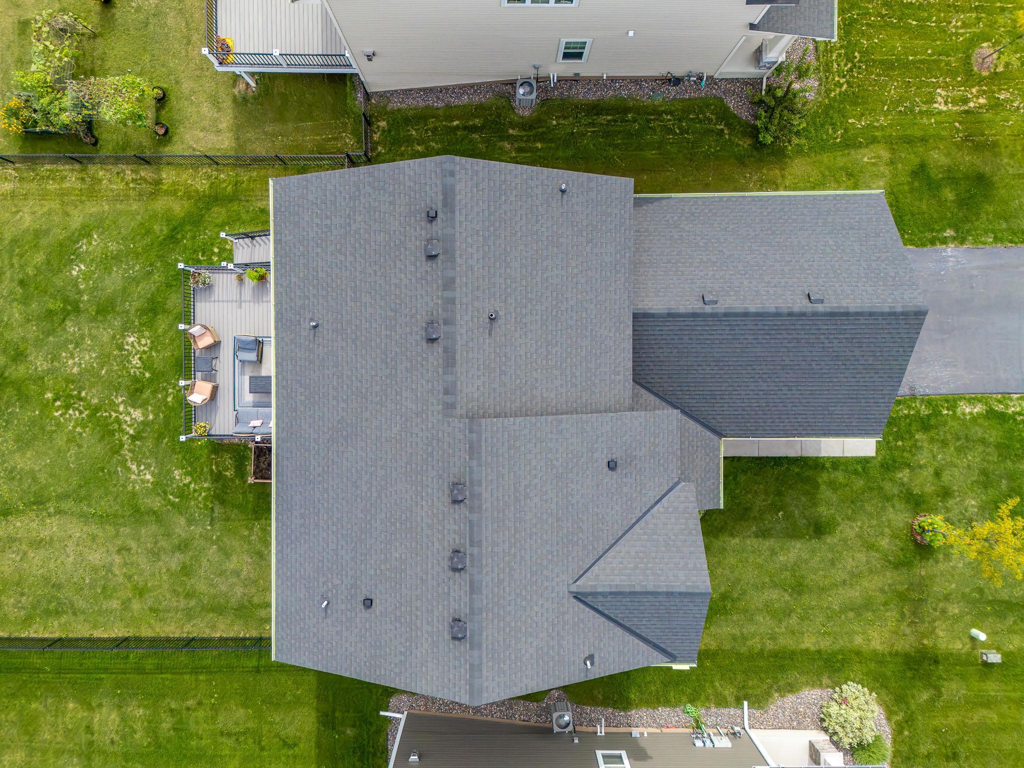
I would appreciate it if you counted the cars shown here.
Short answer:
zero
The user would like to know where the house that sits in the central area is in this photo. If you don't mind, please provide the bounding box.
[268,154,927,703]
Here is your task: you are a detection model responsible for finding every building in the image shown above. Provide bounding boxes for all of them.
[378,702,883,768]
[286,0,837,94]
[268,154,927,703]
